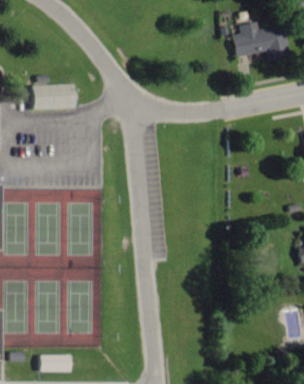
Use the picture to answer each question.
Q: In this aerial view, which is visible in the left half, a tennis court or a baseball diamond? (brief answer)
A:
tennis court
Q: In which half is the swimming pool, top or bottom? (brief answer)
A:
bottom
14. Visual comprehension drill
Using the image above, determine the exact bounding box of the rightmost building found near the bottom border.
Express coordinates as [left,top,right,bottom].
[40,354,74,374]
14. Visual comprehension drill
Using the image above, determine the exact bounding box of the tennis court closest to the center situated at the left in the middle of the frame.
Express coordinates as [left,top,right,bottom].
[68,203,93,256]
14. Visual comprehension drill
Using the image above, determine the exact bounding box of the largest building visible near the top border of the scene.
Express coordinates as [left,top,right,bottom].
[232,12,290,56]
